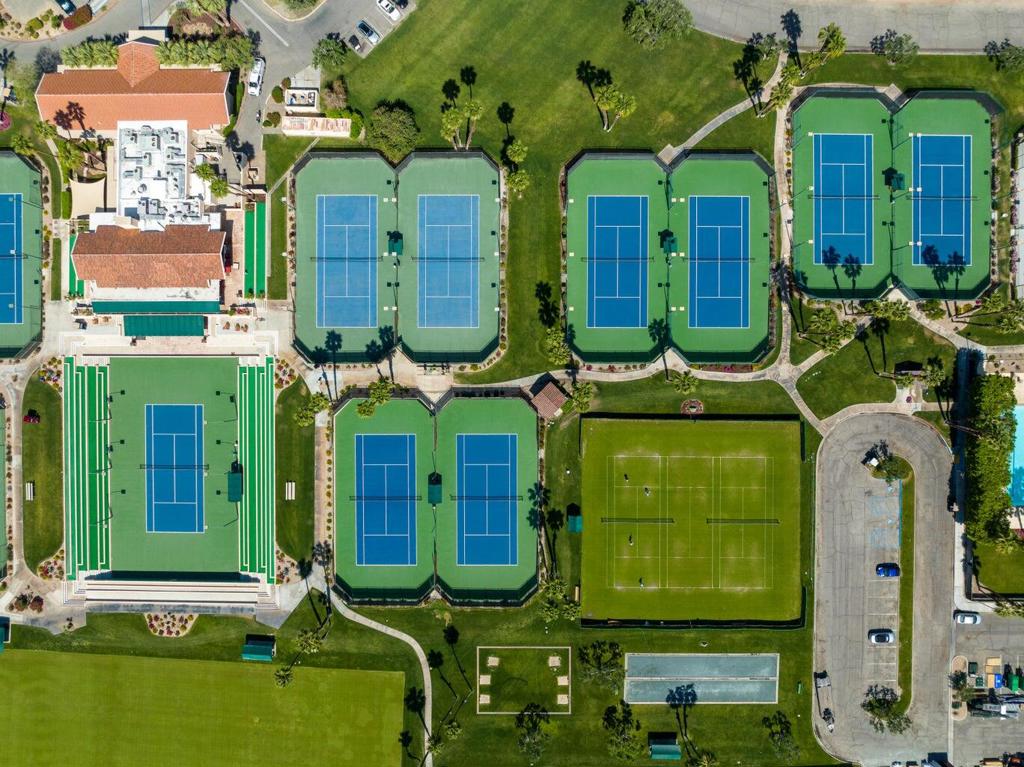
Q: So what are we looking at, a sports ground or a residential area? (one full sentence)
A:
The area seen from above is a sports ground.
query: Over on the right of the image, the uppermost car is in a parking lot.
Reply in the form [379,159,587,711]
[877,565,901,578]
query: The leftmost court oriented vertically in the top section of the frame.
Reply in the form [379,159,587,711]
[0,157,41,356]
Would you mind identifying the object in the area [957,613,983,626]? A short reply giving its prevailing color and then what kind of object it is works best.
white vehicle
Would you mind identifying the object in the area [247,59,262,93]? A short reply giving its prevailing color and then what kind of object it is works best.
white vehicle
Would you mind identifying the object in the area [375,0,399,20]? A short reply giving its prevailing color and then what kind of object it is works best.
white car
